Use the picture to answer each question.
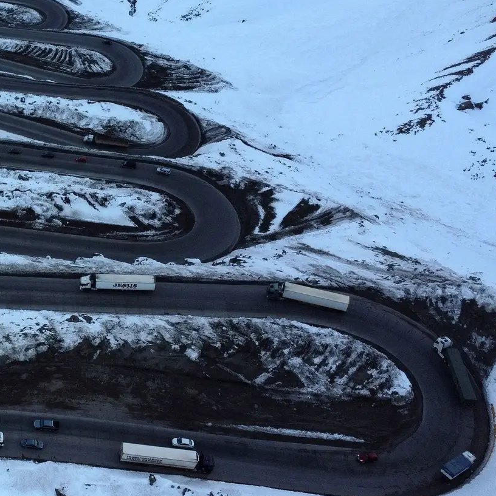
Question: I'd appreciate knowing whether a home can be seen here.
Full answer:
No, there appears to be no home in this shot.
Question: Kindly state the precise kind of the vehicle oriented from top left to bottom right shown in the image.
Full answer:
The vehicle oriented from top left to bottom right is a truck.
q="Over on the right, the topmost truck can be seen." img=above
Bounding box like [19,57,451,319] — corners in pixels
[263,286,353,311]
